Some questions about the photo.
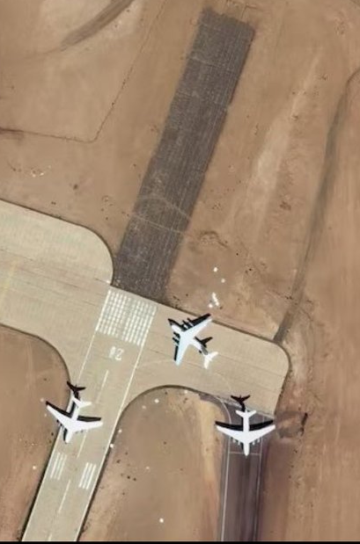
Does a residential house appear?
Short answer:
No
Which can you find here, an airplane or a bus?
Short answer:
airplane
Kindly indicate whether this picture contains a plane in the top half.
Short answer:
No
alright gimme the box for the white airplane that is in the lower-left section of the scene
[45,399,102,443]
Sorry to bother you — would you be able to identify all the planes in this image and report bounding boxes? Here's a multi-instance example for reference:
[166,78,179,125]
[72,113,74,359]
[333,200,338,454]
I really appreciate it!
[171,321,219,367]
[217,410,275,456]
[45,399,102,443]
